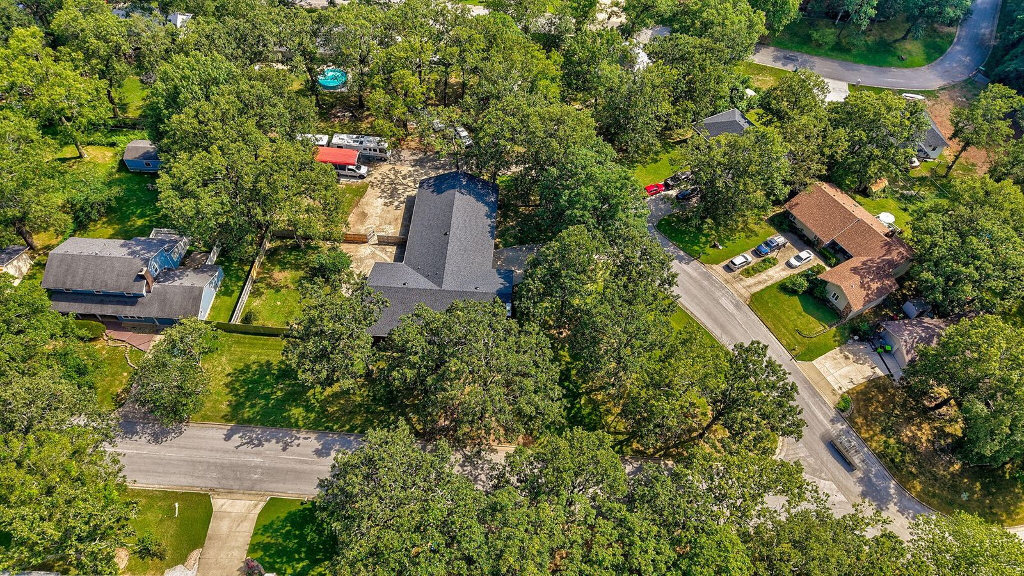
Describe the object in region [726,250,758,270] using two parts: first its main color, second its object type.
white car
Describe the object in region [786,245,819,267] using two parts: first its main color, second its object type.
white car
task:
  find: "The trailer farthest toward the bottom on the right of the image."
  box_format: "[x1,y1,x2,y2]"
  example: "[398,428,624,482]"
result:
[829,428,873,472]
